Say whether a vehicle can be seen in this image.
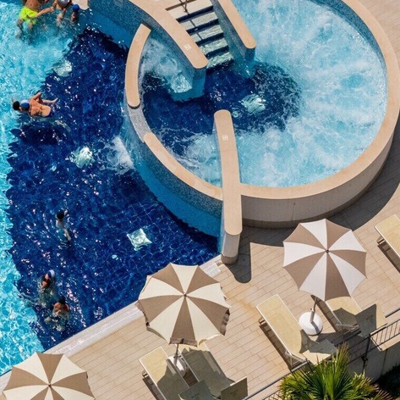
No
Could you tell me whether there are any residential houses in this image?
No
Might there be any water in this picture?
Yes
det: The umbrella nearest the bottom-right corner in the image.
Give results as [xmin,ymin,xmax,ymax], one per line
[281,223,369,334]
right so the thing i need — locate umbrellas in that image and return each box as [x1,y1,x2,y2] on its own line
[135,268,231,367]
[281,223,369,334]
[0,354,98,400]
